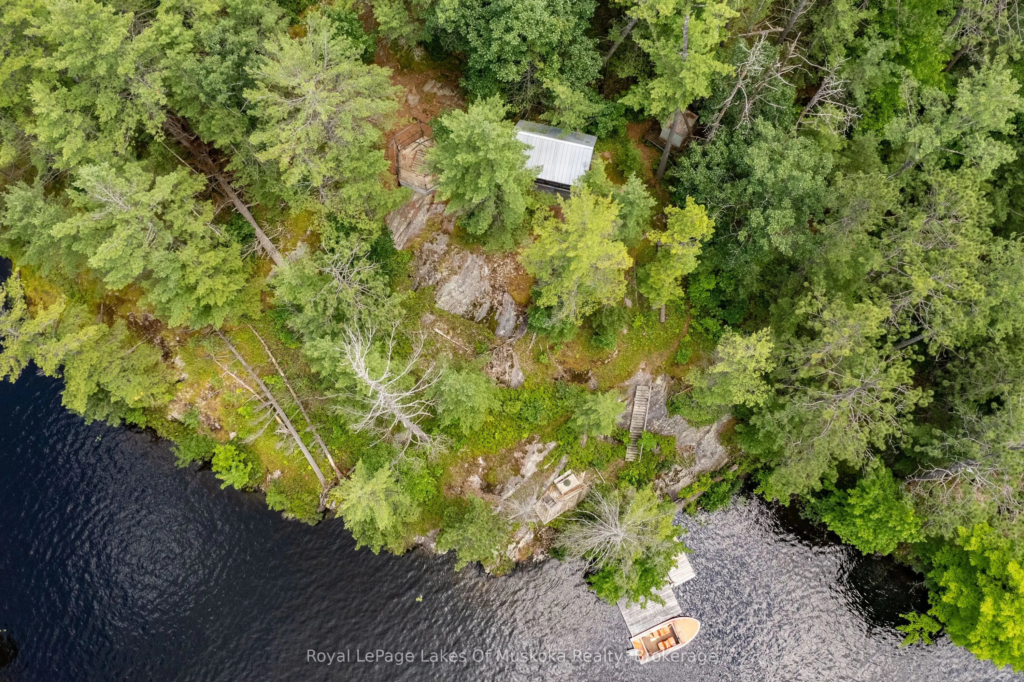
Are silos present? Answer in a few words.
No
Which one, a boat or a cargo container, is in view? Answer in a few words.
boat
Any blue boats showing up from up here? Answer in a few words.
No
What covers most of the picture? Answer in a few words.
trees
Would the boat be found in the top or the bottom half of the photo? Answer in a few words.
bottom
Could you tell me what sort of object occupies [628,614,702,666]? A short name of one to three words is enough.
boat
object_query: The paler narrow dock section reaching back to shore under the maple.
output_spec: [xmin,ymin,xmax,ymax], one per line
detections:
[665,545,696,587]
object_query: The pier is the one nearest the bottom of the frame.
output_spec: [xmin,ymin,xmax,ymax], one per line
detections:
[621,583,682,636]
